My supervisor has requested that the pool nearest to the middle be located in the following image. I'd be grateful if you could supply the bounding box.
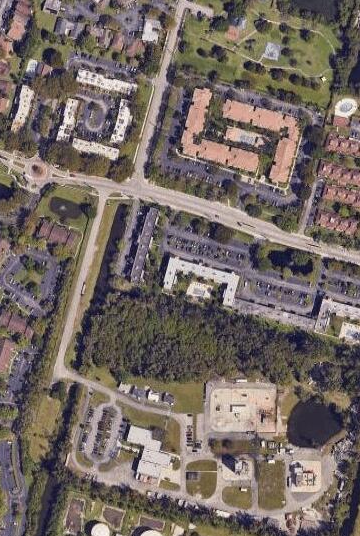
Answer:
[188,283,211,299]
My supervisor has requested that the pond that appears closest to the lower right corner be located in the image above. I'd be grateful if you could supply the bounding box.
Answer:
[289,400,342,444]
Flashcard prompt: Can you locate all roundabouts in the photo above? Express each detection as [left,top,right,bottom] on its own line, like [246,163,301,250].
[25,154,54,184]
